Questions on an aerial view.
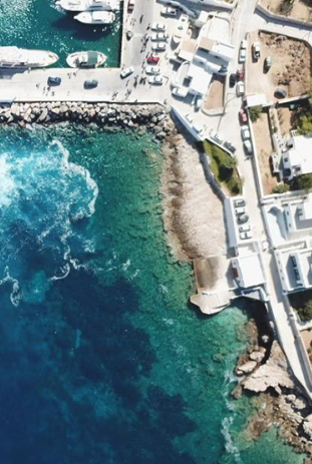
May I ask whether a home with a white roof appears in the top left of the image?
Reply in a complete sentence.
No, no home with a white roof can be made out in the top left of the image.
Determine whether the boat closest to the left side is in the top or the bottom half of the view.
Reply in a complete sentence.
The boat closest to the left side sits in the top half of the picture.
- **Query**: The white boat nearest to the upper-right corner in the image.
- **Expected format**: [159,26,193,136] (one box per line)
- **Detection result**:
[174,14,189,42]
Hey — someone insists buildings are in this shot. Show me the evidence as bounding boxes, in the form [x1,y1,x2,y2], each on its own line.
[194,18,235,65]
[203,0,237,9]
[271,240,312,292]
[280,131,312,177]
[265,195,312,241]
[227,244,269,301]
[243,93,270,108]
[184,58,222,98]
